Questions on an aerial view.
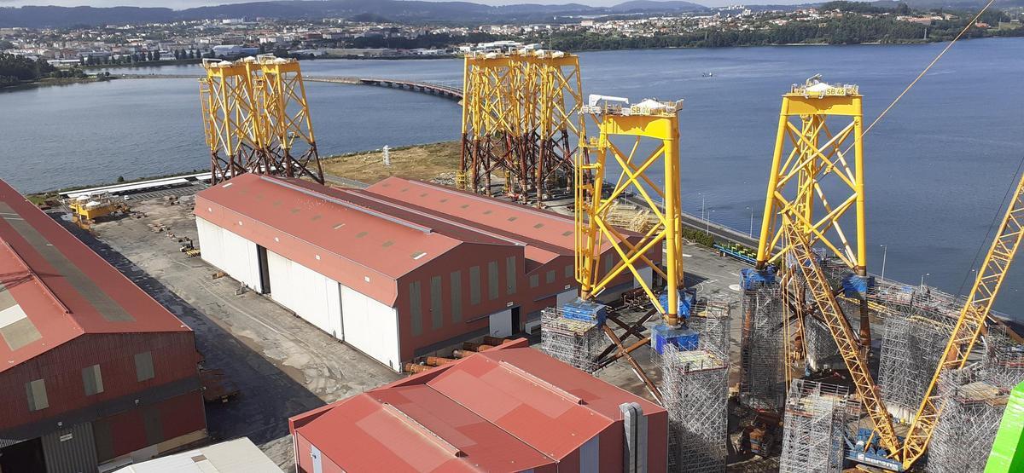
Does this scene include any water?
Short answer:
Yes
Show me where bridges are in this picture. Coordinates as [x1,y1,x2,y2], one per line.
[356,81,474,103]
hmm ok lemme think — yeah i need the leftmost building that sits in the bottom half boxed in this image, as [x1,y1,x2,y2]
[0,180,207,473]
